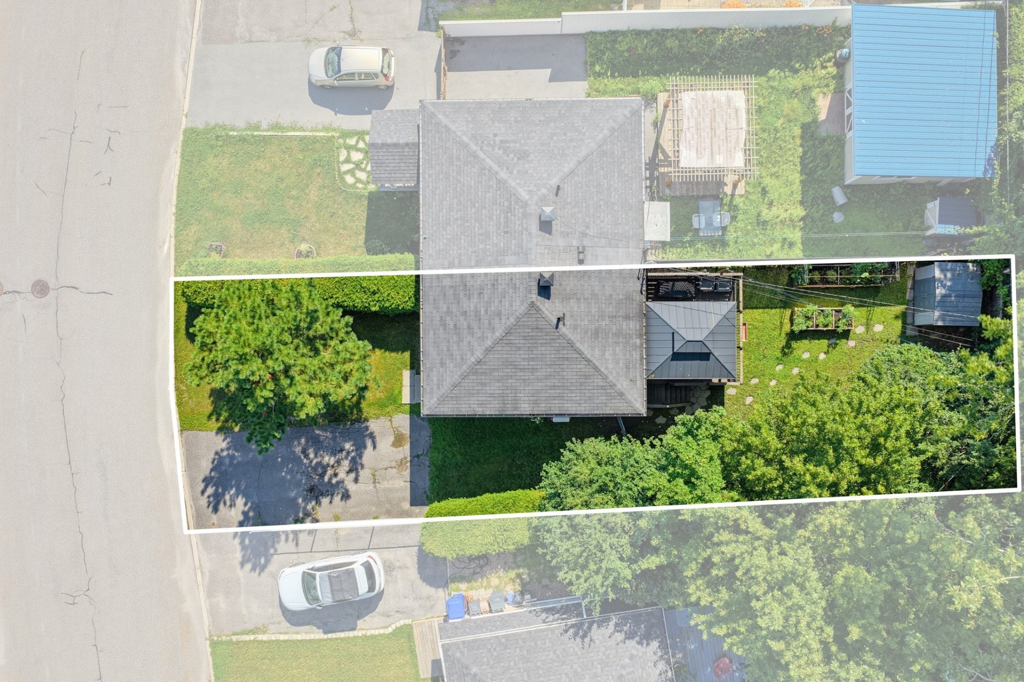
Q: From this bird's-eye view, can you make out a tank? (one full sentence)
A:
No, I can see no tank in this picture.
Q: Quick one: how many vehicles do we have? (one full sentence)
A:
Altogether the scene contains 2 vehicles.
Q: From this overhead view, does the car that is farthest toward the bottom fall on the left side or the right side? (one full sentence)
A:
The car that is farthest toward the bottom is on the left side of the image.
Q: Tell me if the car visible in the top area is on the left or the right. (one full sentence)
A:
You can find the car visible in the top area on the left side of the picture.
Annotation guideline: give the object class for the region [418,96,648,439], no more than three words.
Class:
house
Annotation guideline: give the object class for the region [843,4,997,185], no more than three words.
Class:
shed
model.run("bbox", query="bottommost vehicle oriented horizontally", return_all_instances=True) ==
[280,554,386,609]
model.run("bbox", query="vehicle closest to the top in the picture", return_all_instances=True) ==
[307,40,396,90]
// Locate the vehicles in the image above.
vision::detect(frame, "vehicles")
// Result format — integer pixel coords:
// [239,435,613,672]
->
[280,554,386,609]
[307,40,396,90]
